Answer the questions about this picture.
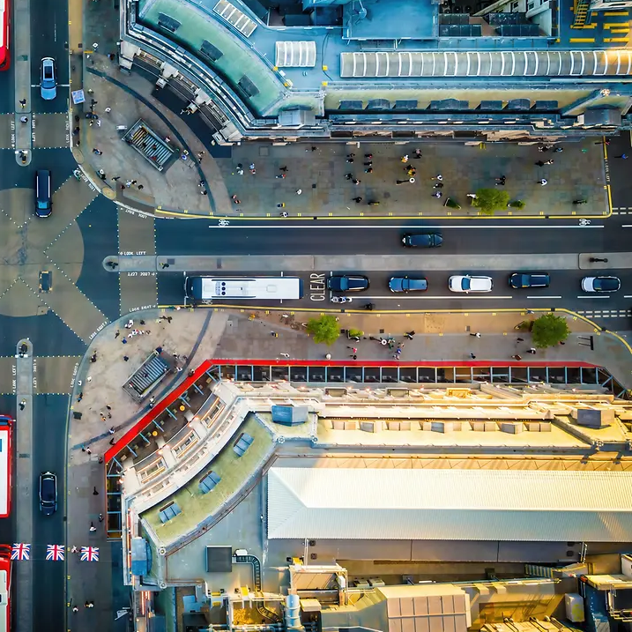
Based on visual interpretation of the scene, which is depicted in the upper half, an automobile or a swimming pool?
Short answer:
automobile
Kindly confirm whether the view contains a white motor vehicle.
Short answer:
Yes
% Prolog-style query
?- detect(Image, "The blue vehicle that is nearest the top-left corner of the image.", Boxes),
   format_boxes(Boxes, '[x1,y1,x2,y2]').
[38,59,58,102]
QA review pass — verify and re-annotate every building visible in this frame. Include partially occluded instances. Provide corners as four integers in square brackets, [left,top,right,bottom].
[107,0,632,150]
[106,378,632,632]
